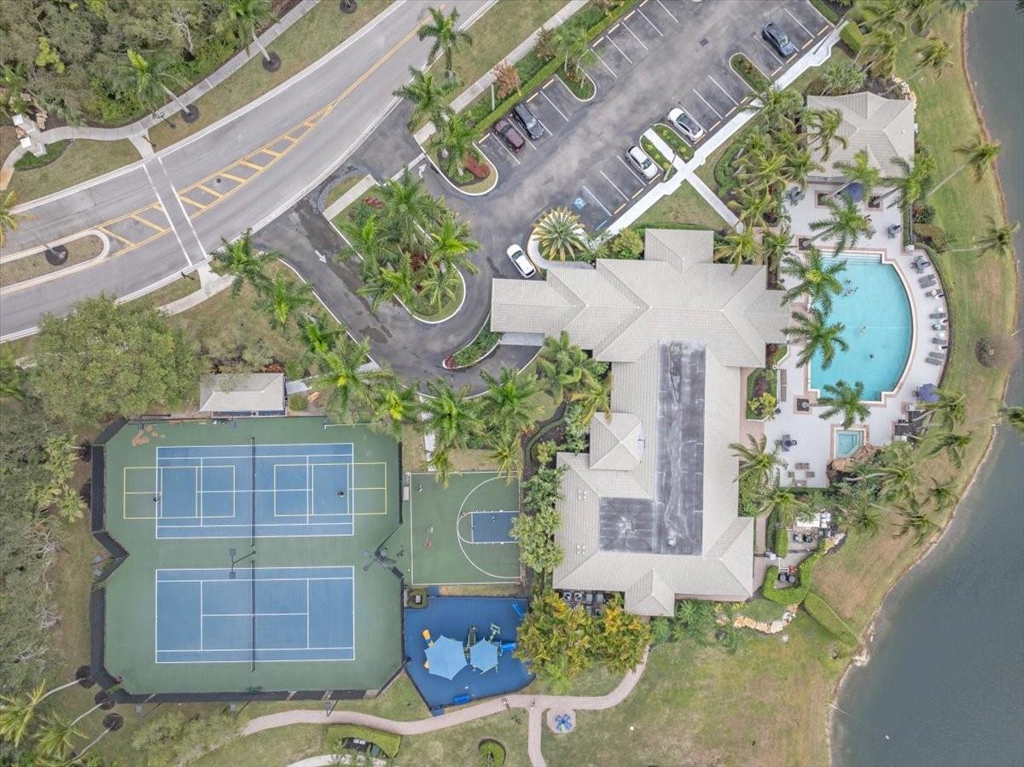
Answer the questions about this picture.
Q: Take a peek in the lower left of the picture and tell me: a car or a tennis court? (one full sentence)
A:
What appears in the lower left of the picture is a tennis court.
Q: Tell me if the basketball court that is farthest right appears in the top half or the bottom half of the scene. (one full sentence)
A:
The basketball court that is farthest right is in the bottom half of the image.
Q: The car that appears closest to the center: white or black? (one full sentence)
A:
The car that appears closest to the center looks white in the image.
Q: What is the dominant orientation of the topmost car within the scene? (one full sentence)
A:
The topmost car is laid out at an angle.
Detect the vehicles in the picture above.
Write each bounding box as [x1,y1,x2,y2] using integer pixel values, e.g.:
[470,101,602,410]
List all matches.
[491,115,529,152]
[503,240,538,280]
[668,104,707,141]
[762,17,797,58]
[624,141,661,180]
[509,98,548,139]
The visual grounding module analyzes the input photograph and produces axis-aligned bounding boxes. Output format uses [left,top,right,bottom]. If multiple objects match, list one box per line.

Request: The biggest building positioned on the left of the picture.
[200,373,286,417]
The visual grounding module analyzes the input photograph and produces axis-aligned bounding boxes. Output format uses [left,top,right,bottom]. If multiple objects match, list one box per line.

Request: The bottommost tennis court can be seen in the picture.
[104,553,409,694]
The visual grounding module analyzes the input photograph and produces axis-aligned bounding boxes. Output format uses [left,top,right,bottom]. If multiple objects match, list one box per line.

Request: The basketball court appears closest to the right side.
[404,471,523,586]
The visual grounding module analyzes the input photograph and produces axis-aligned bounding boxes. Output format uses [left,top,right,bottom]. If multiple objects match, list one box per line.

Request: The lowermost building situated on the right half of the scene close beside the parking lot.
[492,229,790,615]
